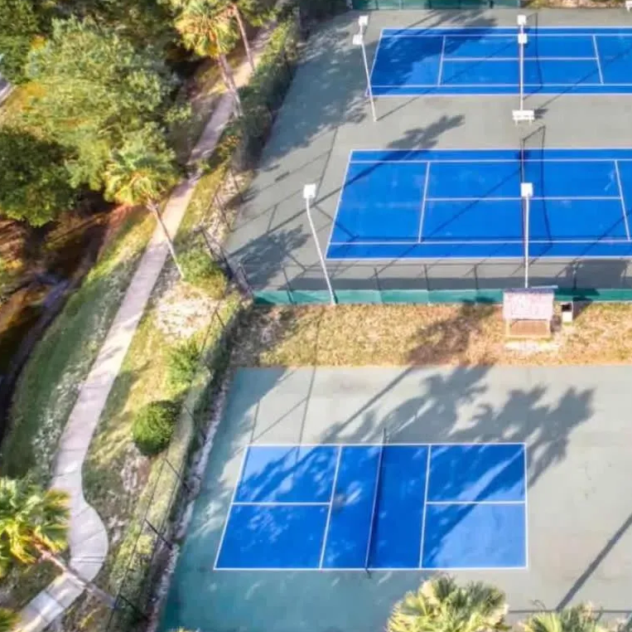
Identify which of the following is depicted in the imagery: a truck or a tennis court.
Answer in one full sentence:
Visible in the photo is a tennis court.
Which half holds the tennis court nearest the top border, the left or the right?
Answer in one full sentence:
The tennis court nearest the top border appears in the right half of the scene.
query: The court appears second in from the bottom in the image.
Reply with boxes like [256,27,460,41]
[325,128,632,259]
